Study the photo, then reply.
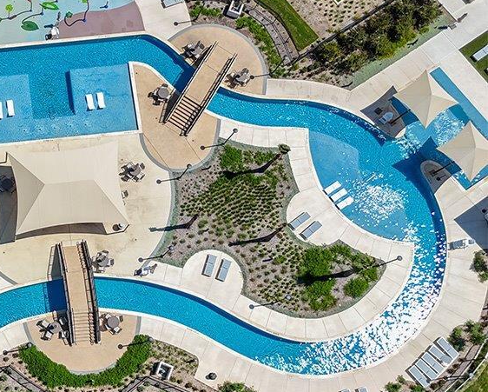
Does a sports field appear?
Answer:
No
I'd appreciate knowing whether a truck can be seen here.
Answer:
No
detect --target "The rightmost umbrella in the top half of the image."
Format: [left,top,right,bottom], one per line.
[429,121,488,178]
